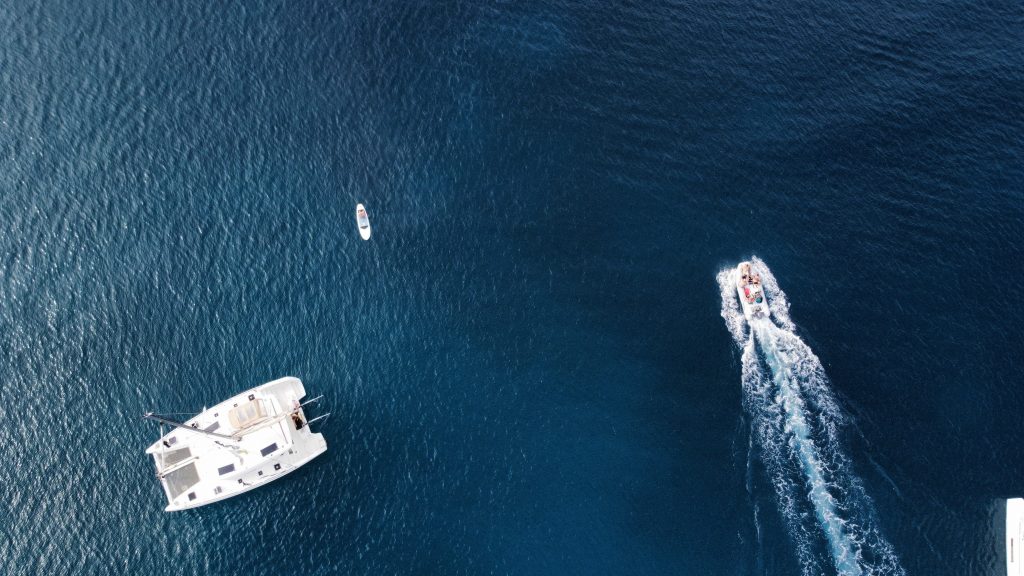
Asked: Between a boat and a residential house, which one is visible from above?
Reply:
boat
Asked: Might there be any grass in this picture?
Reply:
No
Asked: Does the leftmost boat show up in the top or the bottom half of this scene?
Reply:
bottom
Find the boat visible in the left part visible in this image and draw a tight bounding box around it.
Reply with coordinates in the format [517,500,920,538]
[135,379,329,514]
